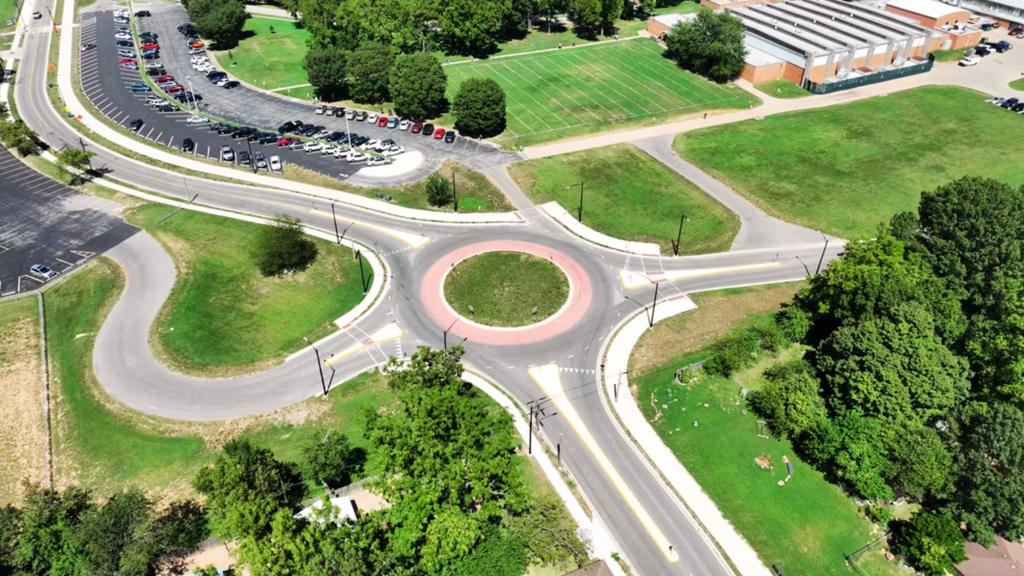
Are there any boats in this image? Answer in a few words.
No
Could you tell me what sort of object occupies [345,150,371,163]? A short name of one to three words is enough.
vehicle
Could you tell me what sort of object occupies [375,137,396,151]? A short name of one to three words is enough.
car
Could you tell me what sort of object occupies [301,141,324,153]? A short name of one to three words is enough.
vehicle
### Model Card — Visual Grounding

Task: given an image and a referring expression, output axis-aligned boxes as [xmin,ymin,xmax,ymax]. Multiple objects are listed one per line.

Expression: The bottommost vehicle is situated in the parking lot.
[28,264,56,279]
